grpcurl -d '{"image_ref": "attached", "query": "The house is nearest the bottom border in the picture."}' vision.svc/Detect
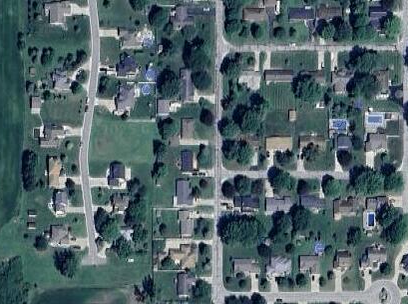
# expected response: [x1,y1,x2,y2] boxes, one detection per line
[178,274,194,298]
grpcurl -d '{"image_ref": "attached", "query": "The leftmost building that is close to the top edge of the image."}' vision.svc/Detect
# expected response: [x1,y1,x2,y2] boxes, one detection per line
[44,3,70,25]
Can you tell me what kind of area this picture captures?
residential area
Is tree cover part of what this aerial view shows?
Yes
